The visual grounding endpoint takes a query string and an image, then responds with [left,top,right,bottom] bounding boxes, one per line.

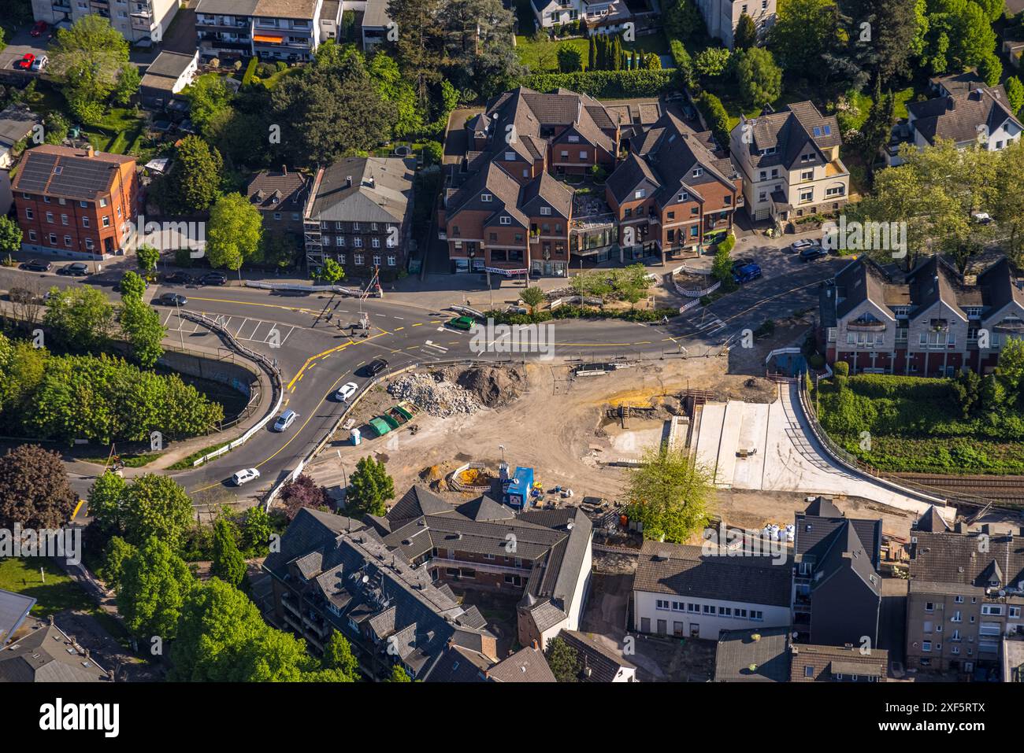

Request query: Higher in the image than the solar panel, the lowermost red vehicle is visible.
[18,51,35,68]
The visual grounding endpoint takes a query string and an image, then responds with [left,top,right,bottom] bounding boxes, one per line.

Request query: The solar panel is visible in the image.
[18,152,117,196]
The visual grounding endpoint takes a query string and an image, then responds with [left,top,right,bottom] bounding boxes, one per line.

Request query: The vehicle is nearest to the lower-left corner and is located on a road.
[232,467,260,484]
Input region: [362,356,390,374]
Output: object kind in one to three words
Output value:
car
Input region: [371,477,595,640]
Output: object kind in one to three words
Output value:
building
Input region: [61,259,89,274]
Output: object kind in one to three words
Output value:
car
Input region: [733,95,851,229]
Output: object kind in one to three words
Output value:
house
